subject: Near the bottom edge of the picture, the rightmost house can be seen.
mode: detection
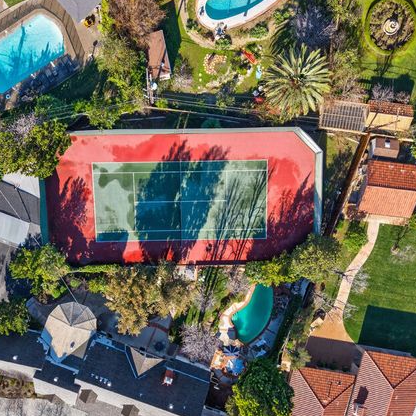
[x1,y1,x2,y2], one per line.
[347,345,416,416]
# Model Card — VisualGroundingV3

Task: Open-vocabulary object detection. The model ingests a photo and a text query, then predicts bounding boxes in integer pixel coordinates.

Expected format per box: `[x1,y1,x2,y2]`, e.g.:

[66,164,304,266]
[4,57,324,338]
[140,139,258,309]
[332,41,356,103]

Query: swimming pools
[200,0,276,24]
[226,275,279,349]
[0,6,73,102]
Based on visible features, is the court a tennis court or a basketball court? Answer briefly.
tennis court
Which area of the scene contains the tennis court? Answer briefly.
center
